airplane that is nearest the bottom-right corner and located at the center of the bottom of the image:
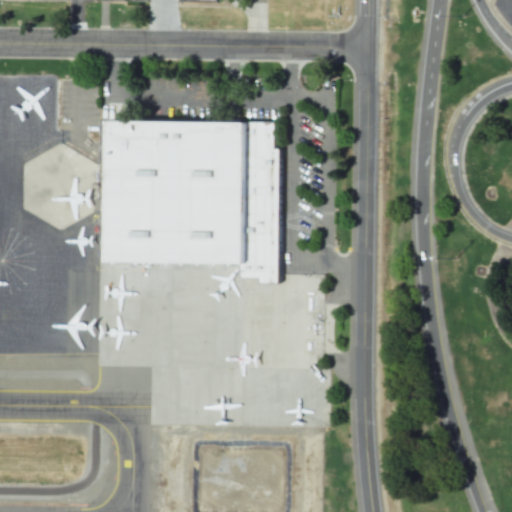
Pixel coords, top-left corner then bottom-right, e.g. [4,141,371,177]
[286,398,315,426]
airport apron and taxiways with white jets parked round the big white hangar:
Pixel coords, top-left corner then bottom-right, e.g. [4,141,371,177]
[0,76,335,512]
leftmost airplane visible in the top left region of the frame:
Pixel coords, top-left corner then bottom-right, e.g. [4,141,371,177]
[11,86,50,120]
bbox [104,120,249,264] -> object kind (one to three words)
hangar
